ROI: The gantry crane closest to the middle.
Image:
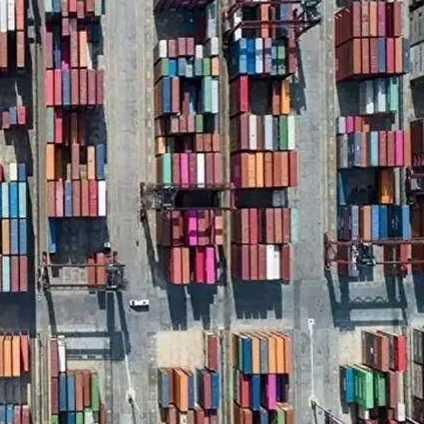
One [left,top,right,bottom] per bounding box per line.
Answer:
[140,179,240,215]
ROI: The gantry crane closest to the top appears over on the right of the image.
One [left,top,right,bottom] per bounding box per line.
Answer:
[218,0,323,44]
